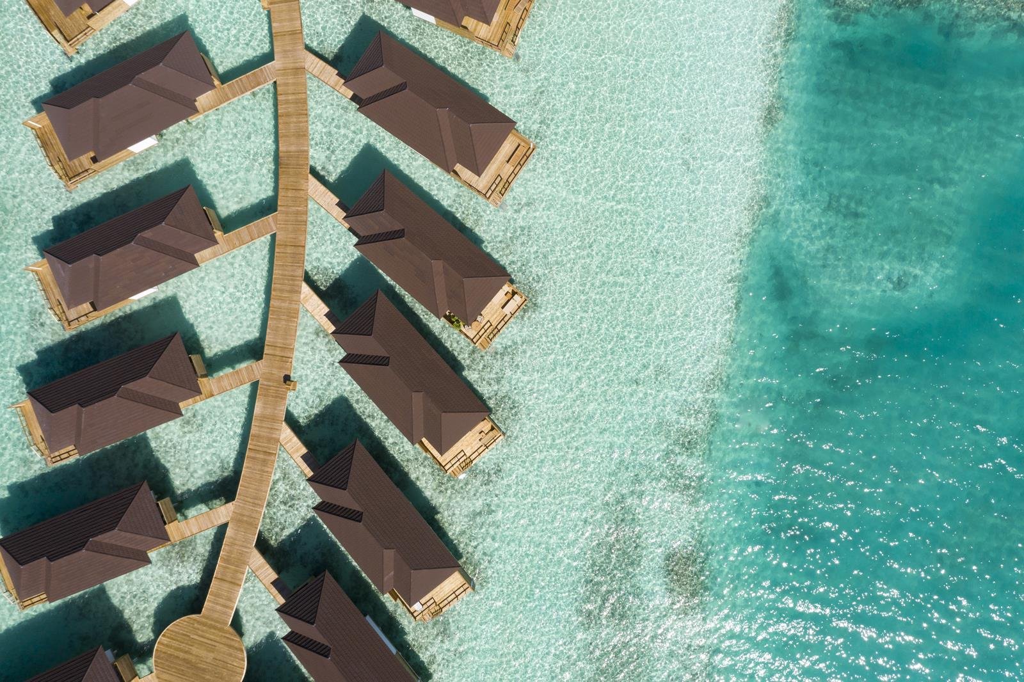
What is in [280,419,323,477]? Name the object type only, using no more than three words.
pier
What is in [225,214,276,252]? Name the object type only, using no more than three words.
pier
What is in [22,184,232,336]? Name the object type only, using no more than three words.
house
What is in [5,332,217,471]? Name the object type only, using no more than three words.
house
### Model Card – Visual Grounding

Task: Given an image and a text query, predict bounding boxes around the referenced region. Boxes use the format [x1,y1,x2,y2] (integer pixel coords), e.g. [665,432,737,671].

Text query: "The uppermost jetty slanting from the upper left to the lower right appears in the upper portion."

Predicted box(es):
[307,51,353,98]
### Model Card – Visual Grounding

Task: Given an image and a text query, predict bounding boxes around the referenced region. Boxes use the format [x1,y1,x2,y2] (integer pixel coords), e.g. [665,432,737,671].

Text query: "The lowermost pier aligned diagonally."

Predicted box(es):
[250,546,294,604]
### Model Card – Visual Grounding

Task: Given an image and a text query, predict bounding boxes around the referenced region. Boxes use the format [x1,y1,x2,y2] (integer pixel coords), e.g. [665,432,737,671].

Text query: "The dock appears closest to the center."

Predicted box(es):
[301,279,344,337]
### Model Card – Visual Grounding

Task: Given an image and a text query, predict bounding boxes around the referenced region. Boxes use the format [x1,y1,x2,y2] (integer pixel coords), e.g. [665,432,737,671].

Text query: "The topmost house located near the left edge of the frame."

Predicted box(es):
[26,0,141,62]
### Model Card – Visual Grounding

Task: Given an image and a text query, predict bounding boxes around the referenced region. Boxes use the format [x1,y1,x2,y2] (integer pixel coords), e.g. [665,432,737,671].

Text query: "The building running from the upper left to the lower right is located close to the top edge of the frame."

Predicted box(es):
[344,30,538,211]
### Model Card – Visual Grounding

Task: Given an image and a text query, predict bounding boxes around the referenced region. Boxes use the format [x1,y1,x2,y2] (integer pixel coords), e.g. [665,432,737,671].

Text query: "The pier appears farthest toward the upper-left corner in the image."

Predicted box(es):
[223,62,277,103]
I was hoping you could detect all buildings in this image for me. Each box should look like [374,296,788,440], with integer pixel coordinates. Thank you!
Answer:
[306,439,477,623]
[276,570,429,682]
[26,0,141,62]
[22,30,232,195]
[25,641,140,682]
[331,289,507,478]
[22,184,232,336]
[344,30,538,211]
[5,332,217,471]
[370,0,536,66]
[343,169,530,354]
[0,480,186,610]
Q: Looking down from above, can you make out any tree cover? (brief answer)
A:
No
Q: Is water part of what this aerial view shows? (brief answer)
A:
Yes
